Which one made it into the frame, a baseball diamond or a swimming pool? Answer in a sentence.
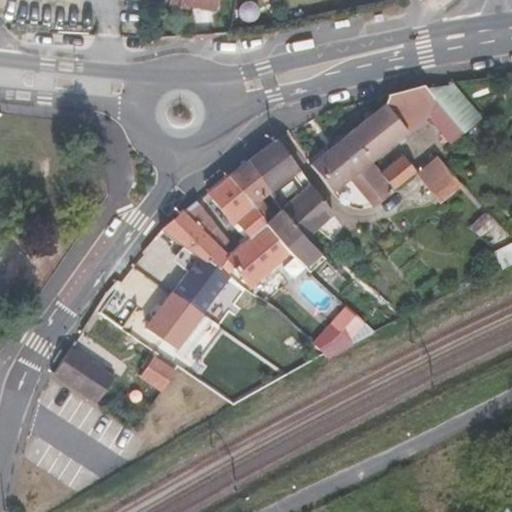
The one in the frame is a swimming pool.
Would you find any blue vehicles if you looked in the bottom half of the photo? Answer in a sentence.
No, the scene shows no blue vehicle in the bottom half of the photo.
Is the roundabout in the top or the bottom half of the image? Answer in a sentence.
The roundabout is in the top half of the image.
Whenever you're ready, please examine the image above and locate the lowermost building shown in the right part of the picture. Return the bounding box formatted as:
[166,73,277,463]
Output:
[314,306,372,360]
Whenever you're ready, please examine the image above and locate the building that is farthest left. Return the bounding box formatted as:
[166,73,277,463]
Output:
[54,344,115,402]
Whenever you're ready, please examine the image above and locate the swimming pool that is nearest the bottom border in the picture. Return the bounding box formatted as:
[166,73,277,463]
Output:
[301,279,330,306]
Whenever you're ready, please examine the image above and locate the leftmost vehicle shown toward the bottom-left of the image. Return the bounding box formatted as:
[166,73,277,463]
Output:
[53,386,70,408]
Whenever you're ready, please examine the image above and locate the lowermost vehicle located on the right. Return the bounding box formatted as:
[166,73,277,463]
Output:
[381,193,402,212]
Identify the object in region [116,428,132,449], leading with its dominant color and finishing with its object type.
white car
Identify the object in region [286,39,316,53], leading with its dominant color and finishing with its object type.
white vehicle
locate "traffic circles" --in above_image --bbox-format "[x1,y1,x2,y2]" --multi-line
[138,68,224,154]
